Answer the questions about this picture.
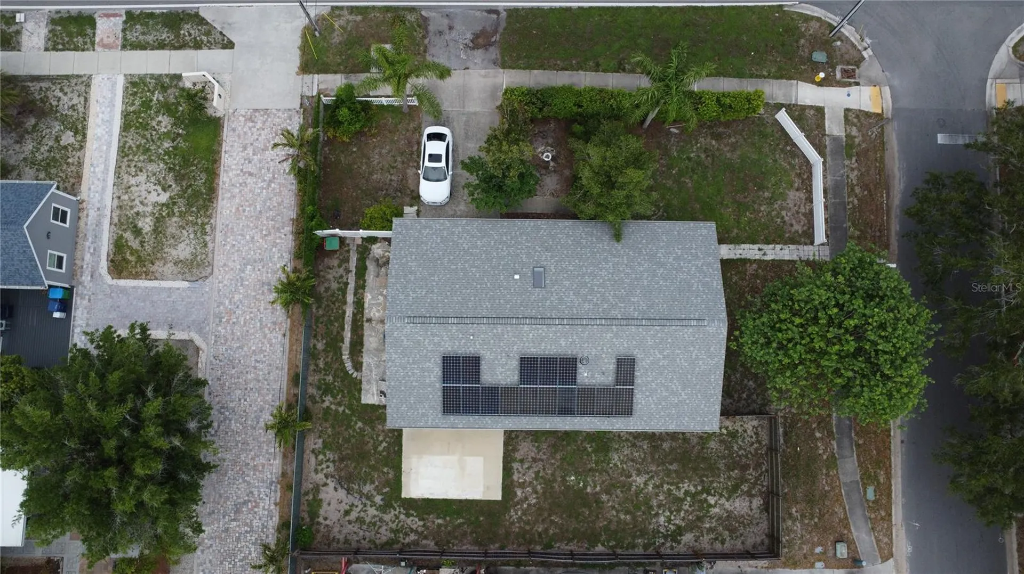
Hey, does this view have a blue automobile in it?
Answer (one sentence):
No, the frame has no blue automobile in it.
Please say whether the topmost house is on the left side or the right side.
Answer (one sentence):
The topmost house is on the left side of the image.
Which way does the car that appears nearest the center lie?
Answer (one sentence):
The car that appears nearest the center is laid out from top to bottom.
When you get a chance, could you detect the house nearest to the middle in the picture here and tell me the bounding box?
[385,217,726,431]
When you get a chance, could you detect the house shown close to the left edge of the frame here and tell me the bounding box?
[0,179,80,291]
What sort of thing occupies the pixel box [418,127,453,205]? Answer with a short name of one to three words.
car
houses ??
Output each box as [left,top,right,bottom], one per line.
[385,217,726,431]
[0,179,80,291]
